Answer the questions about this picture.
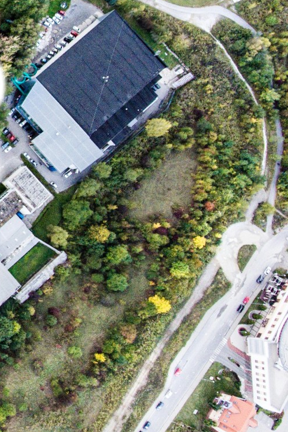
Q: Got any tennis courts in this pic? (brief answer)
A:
No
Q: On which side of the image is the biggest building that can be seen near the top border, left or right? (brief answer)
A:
left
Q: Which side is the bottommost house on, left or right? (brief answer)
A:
right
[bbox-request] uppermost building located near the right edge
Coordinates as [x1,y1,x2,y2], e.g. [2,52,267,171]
[253,276,288,340]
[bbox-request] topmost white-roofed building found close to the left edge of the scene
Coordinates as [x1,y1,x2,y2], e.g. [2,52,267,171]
[1,167,53,213]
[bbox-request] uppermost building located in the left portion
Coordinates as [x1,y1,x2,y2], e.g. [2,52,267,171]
[29,10,167,136]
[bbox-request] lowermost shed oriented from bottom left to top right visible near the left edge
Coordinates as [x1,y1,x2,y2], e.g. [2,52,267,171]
[13,251,67,303]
